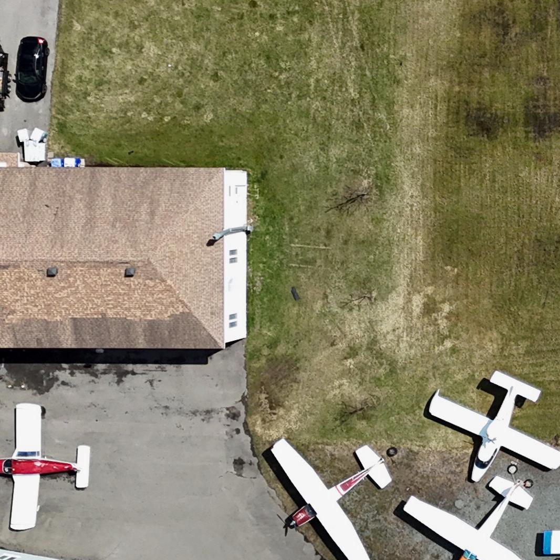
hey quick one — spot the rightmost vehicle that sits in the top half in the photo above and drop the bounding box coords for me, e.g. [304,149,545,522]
[13,36,49,99]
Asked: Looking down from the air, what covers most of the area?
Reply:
grass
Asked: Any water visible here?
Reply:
No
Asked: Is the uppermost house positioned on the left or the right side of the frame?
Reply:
left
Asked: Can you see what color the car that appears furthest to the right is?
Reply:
black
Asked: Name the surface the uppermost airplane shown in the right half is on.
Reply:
grass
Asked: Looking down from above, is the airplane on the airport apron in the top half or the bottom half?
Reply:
bottom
